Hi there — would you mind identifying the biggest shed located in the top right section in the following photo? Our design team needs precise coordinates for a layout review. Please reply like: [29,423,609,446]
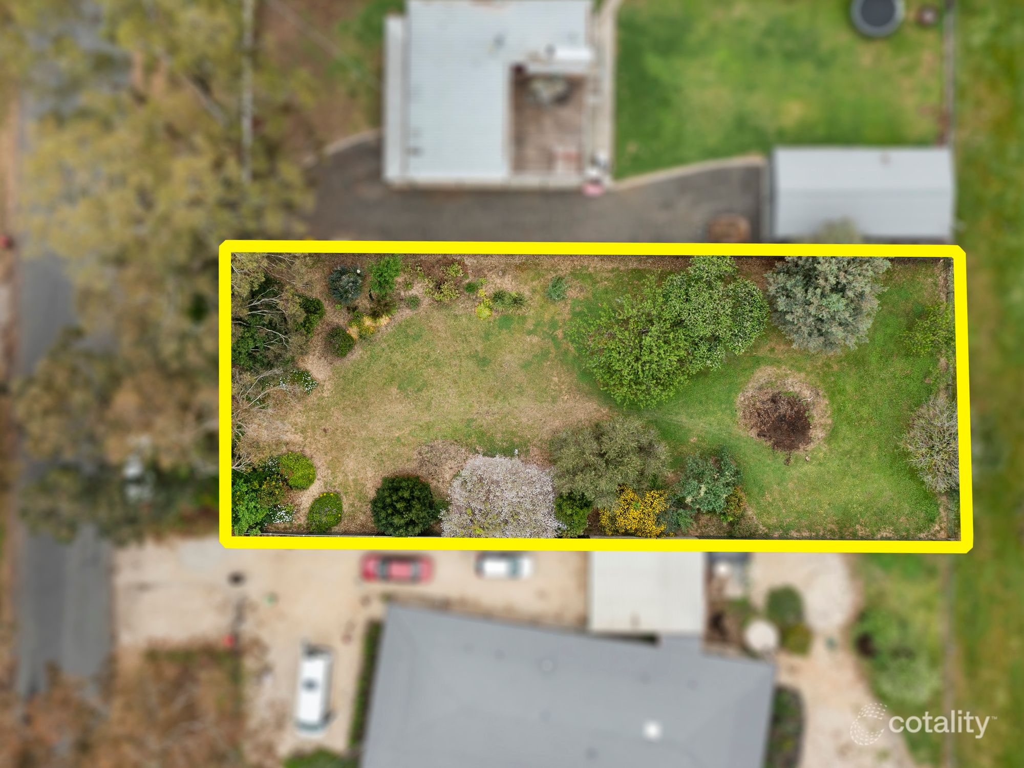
[759,147,960,244]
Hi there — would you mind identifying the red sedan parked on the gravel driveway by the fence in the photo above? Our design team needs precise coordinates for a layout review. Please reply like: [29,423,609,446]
[361,551,434,586]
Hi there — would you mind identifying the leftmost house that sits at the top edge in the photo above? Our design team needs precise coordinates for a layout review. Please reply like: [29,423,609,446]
[385,0,597,196]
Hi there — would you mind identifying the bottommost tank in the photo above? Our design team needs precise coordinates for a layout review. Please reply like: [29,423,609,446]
[739,614,779,654]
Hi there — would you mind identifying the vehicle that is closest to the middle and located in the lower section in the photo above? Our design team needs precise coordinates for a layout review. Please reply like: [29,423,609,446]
[475,551,534,584]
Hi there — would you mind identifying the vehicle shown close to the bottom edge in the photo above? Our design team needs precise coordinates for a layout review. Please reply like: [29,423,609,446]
[291,643,334,734]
